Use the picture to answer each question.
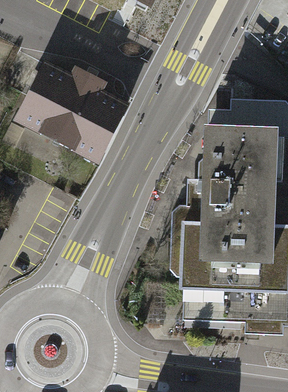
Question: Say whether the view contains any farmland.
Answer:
No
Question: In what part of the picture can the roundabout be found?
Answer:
bottom left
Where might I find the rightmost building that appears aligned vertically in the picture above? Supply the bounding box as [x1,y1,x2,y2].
[171,89,288,334]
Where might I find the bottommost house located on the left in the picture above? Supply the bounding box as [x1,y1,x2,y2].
[14,62,122,165]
